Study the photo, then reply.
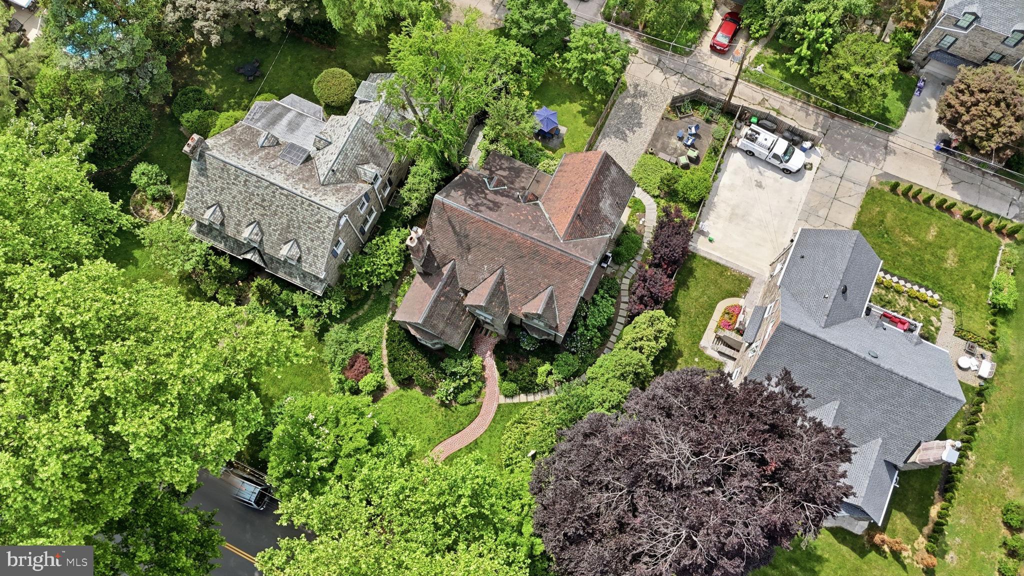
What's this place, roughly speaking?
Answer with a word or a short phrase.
residential area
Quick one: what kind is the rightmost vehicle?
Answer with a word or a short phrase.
truck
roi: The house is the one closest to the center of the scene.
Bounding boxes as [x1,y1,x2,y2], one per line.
[391,150,639,353]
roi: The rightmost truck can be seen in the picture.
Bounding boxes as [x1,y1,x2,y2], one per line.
[733,129,807,177]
